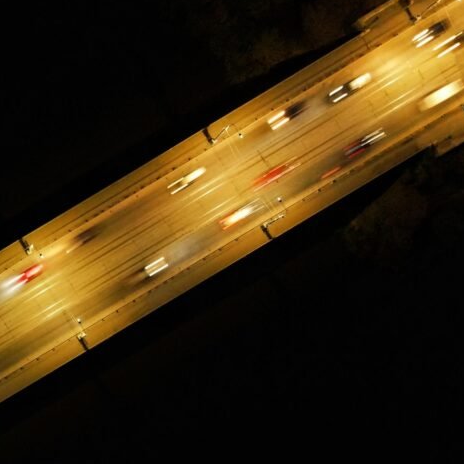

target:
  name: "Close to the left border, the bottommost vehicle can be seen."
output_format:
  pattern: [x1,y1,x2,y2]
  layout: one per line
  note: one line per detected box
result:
[17,264,44,285]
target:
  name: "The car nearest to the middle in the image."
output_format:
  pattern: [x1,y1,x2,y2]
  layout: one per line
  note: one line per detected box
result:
[220,209,247,230]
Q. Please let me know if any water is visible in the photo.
Yes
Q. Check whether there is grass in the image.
No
